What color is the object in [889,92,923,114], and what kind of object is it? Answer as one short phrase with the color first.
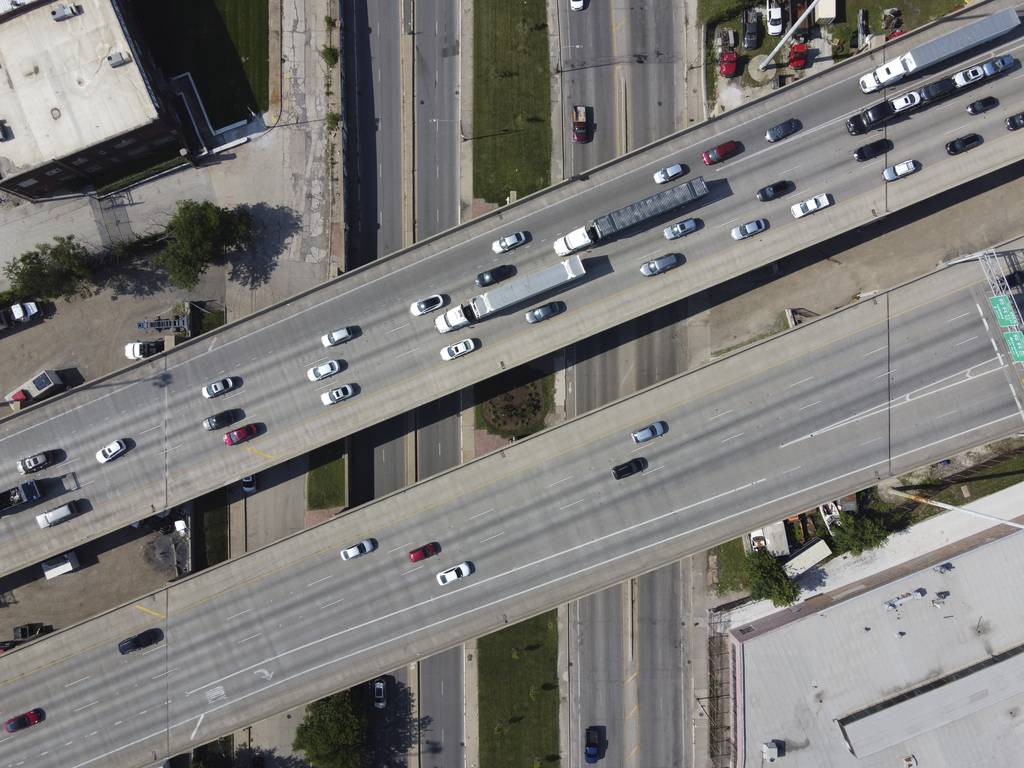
white car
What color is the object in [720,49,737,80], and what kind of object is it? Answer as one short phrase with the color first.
red car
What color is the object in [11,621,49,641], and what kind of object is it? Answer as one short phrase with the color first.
black vehicle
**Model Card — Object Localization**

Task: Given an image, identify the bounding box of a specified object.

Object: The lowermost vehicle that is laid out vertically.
[584,723,600,762]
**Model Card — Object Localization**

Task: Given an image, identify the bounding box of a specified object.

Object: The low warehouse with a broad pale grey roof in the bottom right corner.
[728,513,1024,768]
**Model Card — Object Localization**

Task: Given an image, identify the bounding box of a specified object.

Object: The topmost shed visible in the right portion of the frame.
[835,491,856,510]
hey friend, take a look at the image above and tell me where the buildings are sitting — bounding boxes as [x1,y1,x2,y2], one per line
[0,0,189,217]
[835,491,856,510]
[728,513,1024,768]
